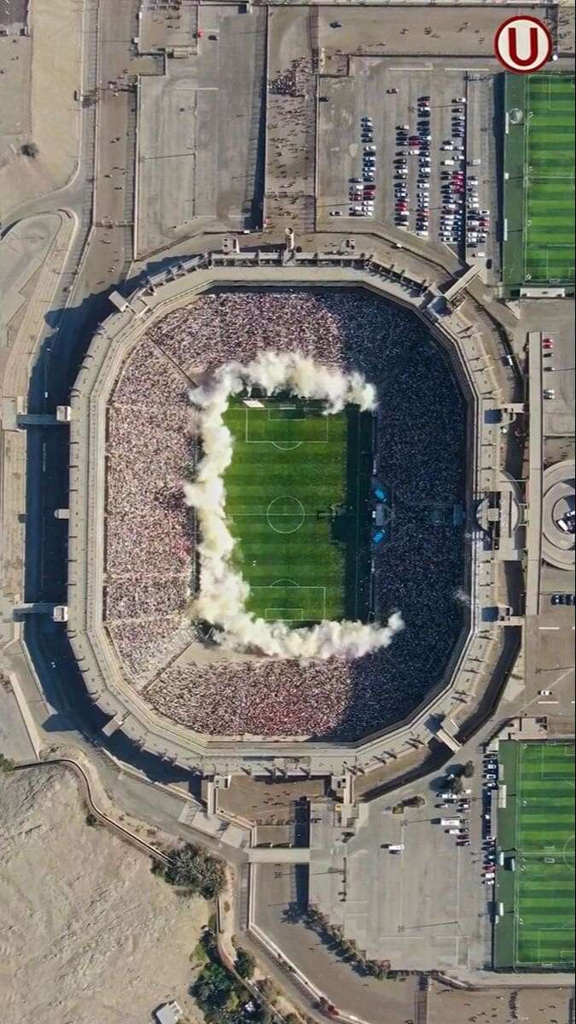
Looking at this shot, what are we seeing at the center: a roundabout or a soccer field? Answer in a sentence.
You can see a soccer field at the center.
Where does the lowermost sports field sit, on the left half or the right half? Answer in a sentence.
You can find the lowermost sports field on the right side of the picture.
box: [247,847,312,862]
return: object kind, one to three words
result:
bridge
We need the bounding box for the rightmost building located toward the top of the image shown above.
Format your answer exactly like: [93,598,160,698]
[519,287,565,299]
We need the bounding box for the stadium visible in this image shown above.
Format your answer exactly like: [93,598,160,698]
[53,237,528,791]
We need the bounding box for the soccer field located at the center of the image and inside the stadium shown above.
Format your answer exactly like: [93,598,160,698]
[203,394,370,632]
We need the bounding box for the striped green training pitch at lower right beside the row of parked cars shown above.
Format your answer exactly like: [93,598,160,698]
[495,740,576,970]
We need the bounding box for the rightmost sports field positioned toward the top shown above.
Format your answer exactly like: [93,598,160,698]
[503,73,576,294]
